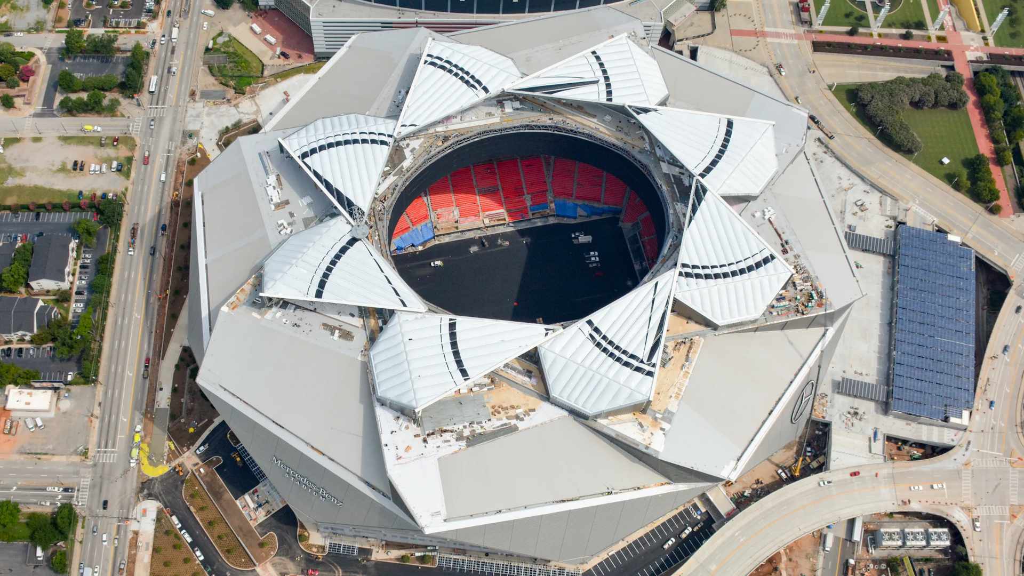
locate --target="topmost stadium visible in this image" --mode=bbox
[279,0,688,43]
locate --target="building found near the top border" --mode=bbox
[658,4,716,65]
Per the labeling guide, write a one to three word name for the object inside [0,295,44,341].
house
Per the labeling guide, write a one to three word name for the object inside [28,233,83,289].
house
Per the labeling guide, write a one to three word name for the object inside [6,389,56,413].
building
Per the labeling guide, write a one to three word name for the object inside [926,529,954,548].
cooling tower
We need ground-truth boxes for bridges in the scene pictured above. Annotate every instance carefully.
[670,468,852,576]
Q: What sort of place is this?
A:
sports ground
